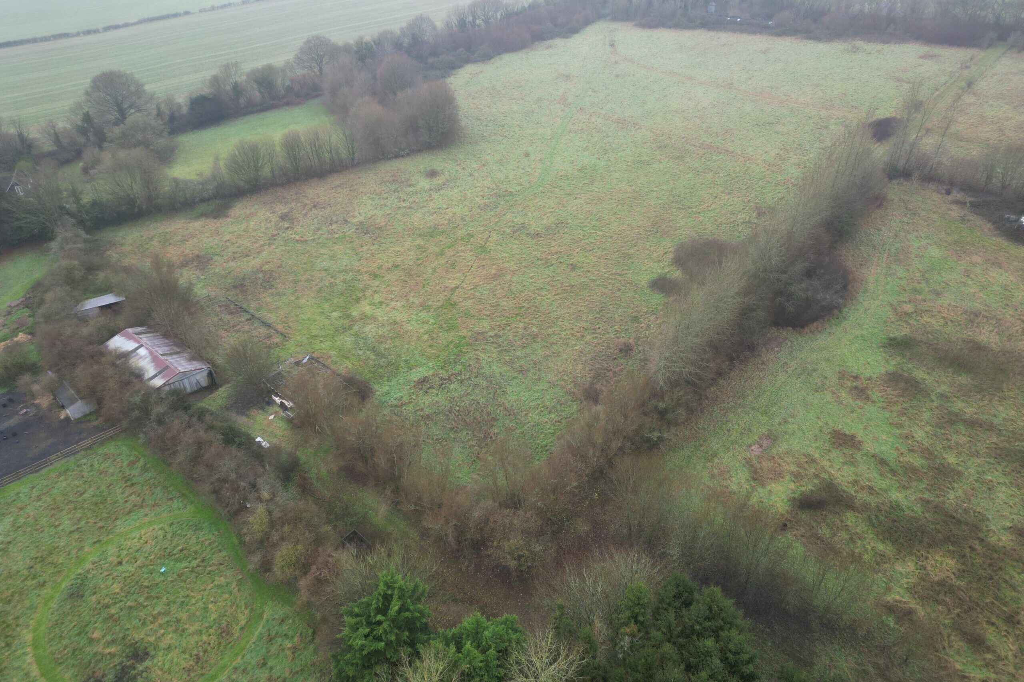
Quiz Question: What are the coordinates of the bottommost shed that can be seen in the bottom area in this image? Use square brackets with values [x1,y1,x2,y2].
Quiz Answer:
[334,513,380,560]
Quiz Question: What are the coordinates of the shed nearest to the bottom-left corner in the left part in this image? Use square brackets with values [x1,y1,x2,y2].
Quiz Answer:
[53,378,101,430]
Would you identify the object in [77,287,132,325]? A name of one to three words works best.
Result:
shed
